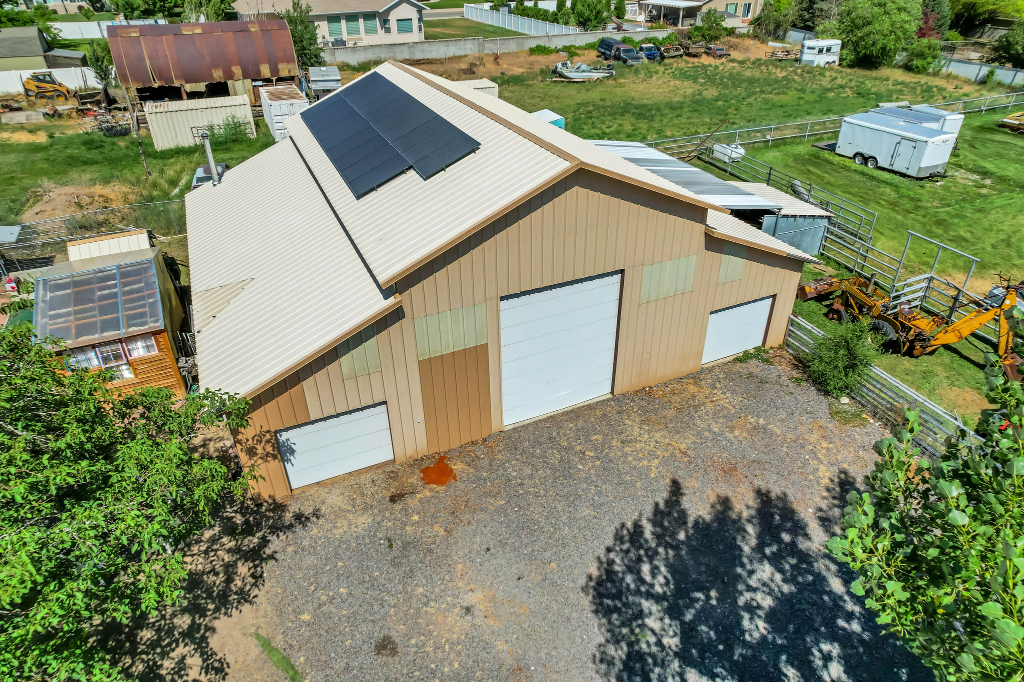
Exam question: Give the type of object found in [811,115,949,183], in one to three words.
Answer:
trailer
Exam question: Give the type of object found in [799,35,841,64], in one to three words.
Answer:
trailer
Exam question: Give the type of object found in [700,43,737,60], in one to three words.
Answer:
car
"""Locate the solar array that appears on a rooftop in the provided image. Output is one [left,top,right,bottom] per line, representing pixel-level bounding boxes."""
[294,72,481,201]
